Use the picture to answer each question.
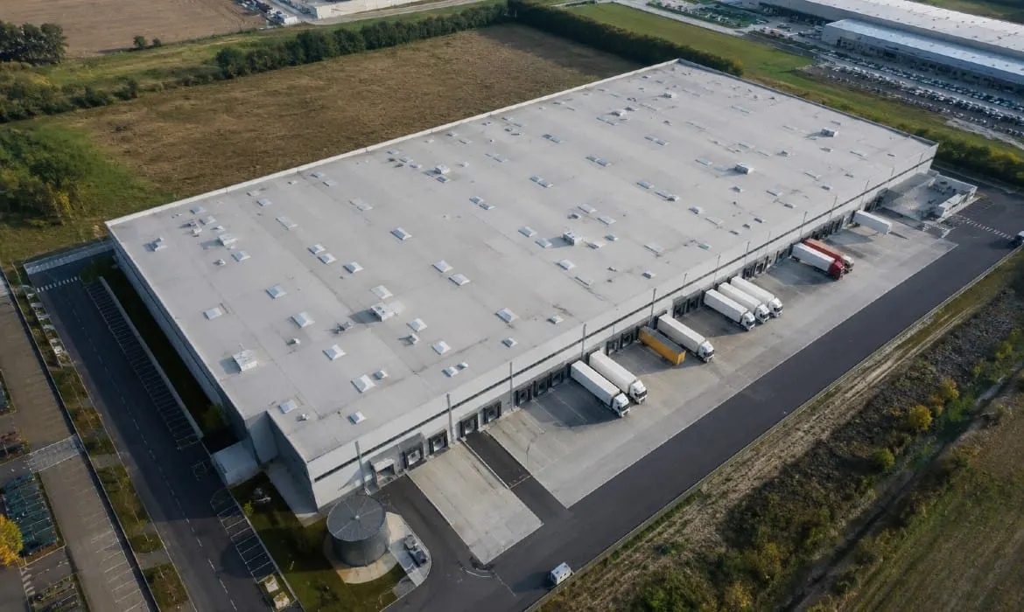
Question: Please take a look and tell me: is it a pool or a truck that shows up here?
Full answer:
There is a truck in the scene.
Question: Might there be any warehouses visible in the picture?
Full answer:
Yes, there's a warehouse down there.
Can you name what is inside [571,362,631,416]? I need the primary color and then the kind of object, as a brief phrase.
white truck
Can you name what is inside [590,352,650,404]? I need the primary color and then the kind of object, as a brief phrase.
white truck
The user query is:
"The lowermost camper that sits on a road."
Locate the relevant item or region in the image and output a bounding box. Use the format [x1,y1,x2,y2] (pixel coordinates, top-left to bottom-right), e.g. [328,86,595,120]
[549,557,573,581]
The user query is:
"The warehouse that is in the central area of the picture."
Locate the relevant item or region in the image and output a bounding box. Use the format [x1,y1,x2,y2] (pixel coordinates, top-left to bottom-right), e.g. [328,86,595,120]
[105,58,942,509]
